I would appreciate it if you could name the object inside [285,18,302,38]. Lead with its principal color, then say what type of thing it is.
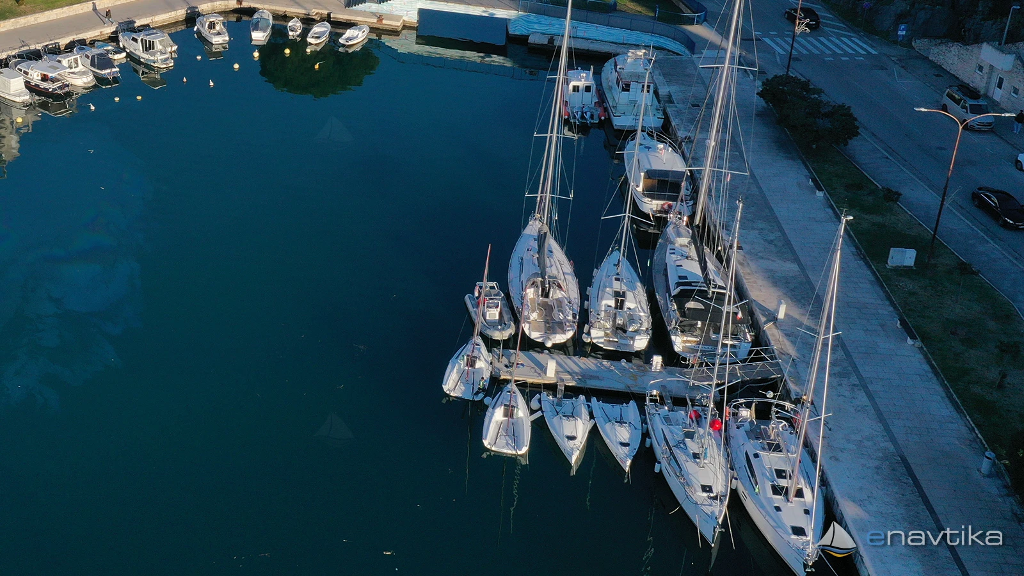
white boat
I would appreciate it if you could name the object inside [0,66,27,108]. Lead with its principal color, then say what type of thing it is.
white boat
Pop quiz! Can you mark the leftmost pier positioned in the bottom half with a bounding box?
[493,351,729,406]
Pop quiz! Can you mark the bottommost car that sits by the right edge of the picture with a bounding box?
[973,186,1024,229]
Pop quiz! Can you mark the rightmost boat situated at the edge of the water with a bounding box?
[727,191,854,576]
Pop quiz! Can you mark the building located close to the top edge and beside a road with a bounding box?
[948,21,1024,115]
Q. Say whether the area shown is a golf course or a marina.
marina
